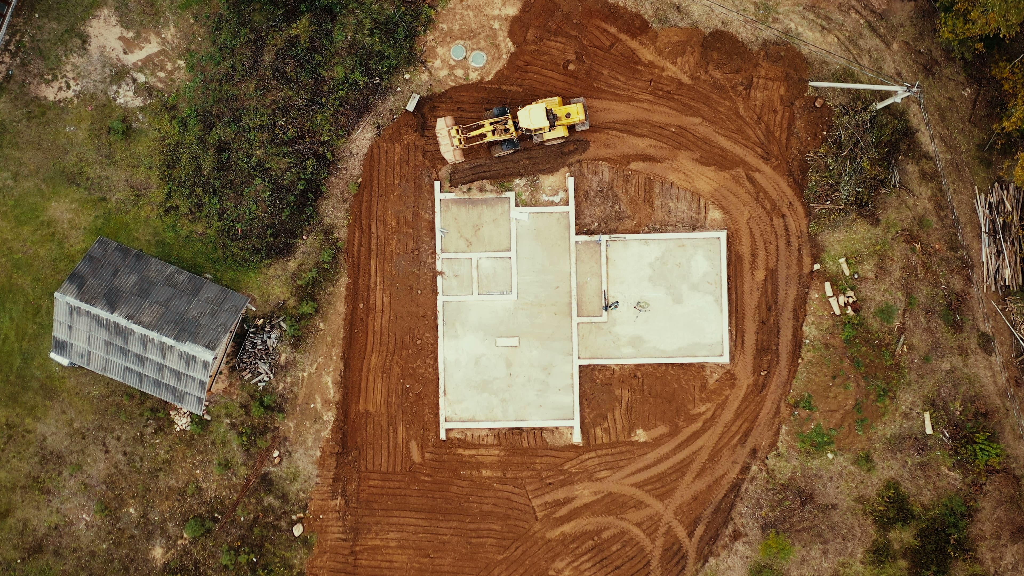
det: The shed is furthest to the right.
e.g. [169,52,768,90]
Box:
[52,236,258,415]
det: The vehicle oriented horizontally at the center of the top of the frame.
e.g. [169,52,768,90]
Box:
[436,96,589,165]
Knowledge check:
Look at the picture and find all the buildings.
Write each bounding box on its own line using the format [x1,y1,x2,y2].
[0,0,17,44]
[52,236,258,415]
